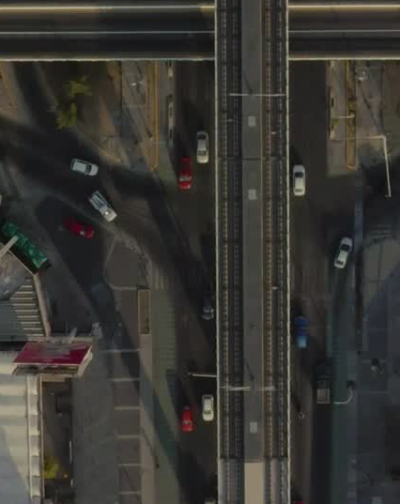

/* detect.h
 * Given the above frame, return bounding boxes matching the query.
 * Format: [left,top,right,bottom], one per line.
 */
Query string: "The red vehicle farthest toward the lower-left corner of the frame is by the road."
[179,404,194,430]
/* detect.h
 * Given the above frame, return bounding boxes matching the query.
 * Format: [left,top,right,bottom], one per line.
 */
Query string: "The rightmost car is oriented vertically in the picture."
[334,236,352,268]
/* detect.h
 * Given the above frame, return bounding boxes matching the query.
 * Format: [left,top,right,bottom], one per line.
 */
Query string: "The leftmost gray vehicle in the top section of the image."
[69,158,99,177]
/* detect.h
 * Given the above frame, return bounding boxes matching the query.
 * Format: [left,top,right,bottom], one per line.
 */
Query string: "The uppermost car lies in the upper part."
[195,130,209,162]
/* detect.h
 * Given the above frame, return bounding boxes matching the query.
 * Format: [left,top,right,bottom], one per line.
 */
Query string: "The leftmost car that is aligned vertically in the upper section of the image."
[177,156,191,189]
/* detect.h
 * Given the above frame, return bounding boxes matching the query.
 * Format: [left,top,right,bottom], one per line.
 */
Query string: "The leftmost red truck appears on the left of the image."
[61,216,95,239]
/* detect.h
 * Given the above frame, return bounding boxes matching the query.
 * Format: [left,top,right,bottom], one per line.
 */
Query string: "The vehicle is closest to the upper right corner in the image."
[291,164,305,195]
